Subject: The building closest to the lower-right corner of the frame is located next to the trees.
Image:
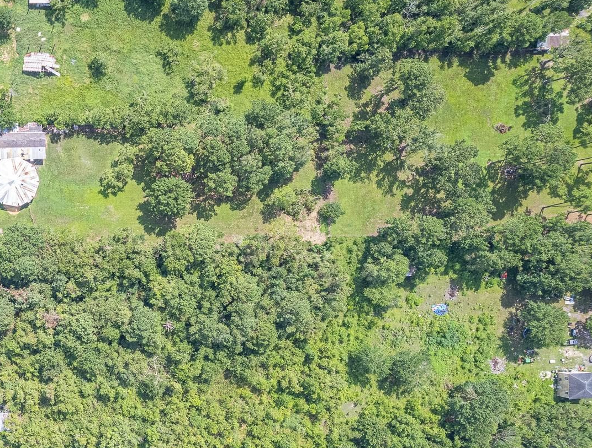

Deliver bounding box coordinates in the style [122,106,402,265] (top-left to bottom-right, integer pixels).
[558,372,592,399]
